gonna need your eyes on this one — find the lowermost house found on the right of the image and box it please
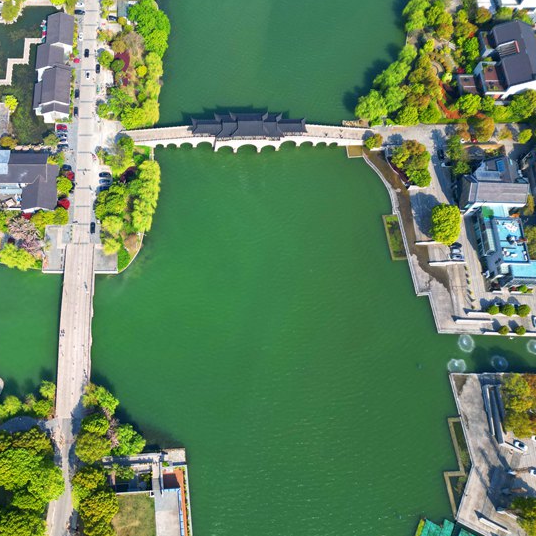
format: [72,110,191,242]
[502,261,536,285]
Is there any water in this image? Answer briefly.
Yes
